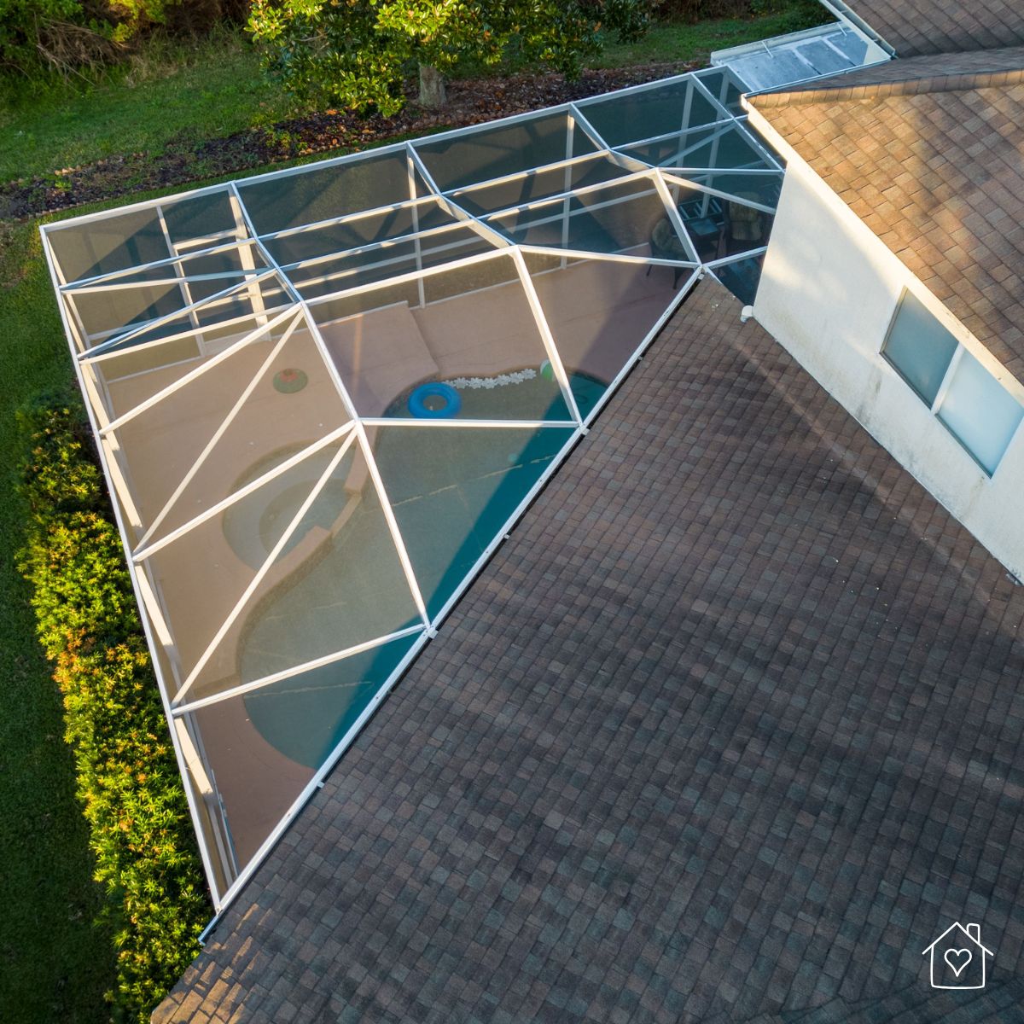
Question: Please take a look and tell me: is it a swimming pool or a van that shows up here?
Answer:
swimming pool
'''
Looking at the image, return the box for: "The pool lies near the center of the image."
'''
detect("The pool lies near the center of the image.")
[222,370,606,771]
